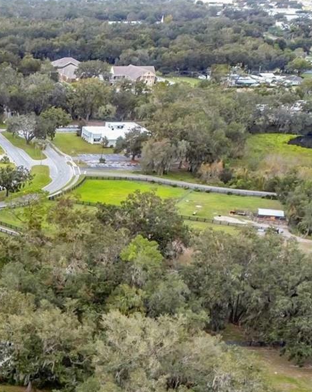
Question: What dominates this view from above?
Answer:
trees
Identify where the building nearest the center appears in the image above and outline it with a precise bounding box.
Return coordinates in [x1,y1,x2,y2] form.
[83,117,151,147]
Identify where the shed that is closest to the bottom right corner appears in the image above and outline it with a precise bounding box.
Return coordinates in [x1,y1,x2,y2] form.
[250,202,288,221]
